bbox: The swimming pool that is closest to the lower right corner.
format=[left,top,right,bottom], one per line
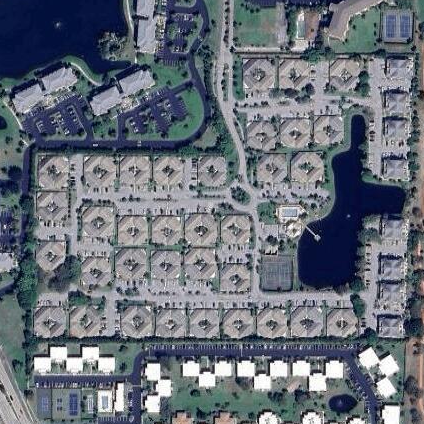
[278,205,300,221]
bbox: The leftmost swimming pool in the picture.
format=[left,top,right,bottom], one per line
[98,390,112,412]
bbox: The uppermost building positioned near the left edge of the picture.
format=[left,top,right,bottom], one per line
[14,65,78,112]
